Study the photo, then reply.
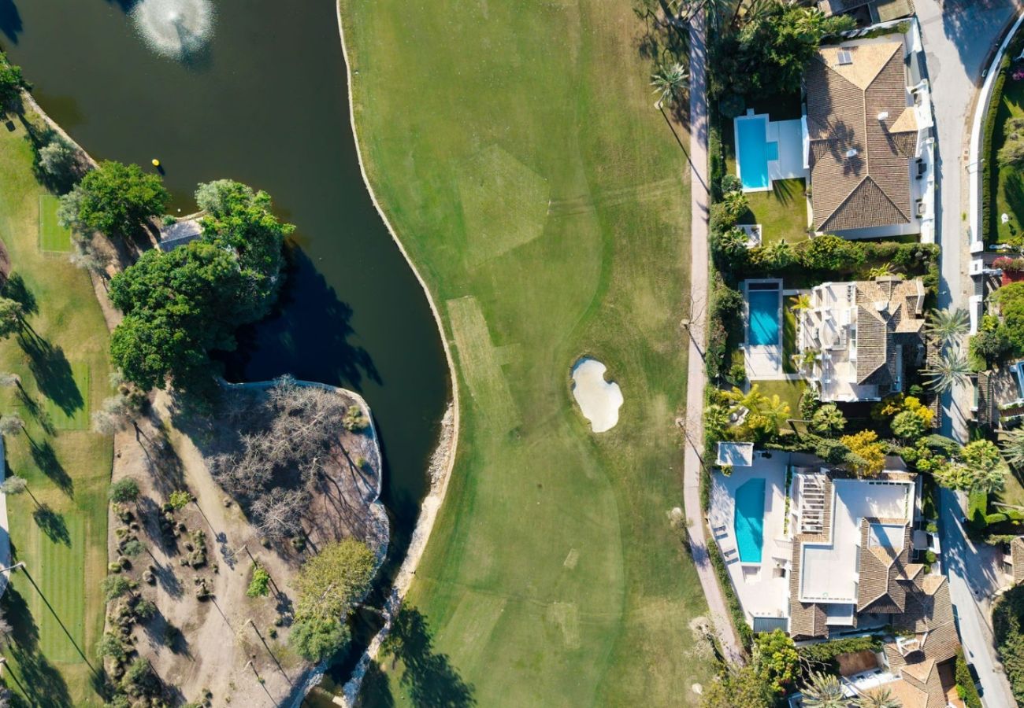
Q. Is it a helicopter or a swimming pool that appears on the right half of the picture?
swimming pool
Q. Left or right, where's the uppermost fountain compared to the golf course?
left of it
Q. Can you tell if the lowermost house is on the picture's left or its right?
right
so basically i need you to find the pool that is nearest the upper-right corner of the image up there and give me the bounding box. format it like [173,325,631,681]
[734,108,807,192]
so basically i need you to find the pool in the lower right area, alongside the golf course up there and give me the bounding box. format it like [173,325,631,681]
[709,452,792,634]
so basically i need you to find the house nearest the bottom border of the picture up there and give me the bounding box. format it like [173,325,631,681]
[832,564,959,708]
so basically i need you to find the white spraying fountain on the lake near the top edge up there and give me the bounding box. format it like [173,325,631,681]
[127,0,219,61]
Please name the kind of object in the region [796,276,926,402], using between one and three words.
house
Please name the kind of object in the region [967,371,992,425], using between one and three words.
building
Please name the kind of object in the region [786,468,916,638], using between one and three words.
house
